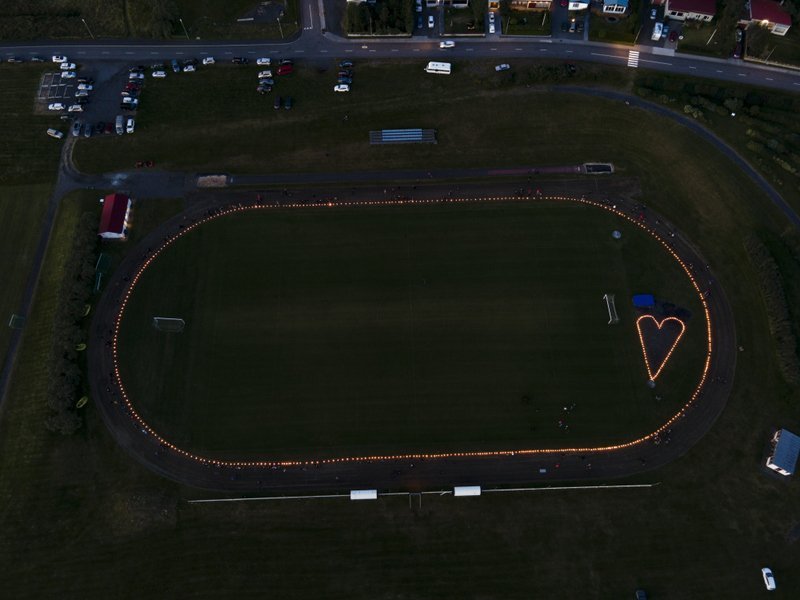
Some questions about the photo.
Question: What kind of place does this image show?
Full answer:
It's a sports ground.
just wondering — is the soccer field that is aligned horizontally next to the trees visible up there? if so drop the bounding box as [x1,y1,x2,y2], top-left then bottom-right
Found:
[115,198,710,465]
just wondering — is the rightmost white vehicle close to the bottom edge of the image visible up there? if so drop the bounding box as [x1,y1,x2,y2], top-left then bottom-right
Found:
[761,568,777,589]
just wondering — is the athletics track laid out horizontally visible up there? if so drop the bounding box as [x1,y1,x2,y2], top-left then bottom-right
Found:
[87,177,737,495]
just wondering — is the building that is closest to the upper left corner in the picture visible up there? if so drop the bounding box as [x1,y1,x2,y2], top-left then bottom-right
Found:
[97,191,131,238]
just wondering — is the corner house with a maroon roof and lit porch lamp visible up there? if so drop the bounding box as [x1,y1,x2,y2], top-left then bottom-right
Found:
[745,0,794,35]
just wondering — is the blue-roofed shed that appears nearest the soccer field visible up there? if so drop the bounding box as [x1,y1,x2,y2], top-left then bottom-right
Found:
[758,426,800,477]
